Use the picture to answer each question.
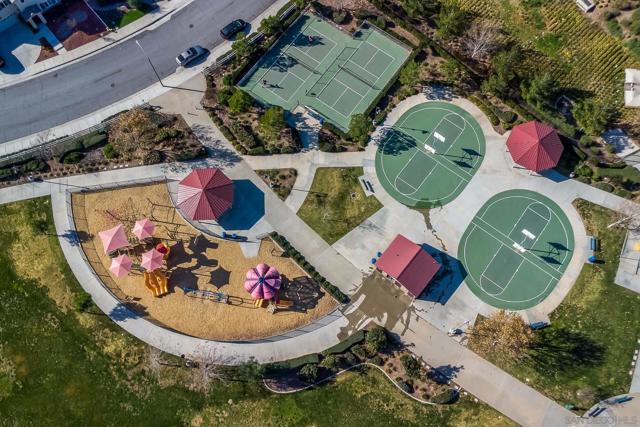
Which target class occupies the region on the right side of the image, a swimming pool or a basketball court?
basketball court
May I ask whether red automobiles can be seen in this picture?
No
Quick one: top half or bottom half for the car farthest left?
top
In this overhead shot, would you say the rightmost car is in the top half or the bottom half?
top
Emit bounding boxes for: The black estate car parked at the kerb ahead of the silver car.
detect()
[218,21,247,42]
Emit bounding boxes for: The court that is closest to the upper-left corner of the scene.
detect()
[239,8,352,111]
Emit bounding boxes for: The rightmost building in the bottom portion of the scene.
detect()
[373,234,441,299]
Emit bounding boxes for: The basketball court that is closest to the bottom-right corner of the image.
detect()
[459,189,575,308]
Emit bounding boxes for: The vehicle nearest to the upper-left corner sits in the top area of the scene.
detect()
[174,48,204,68]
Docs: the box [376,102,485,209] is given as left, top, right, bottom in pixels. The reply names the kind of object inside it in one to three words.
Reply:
basketball court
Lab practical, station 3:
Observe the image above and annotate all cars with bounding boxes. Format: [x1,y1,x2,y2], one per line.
[174,48,204,68]
[218,21,247,42]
